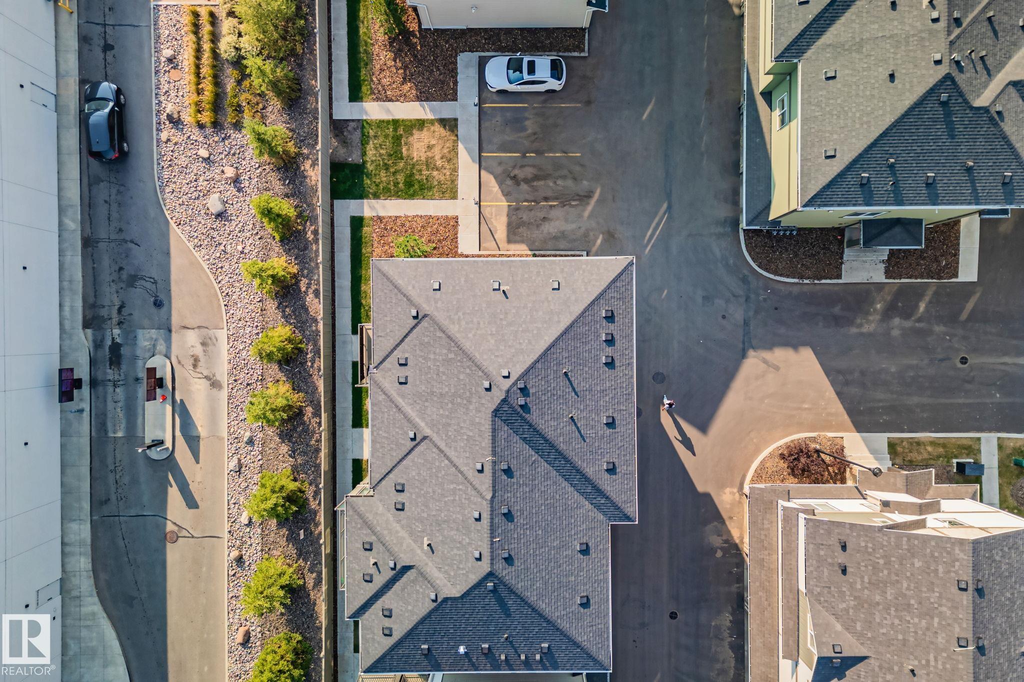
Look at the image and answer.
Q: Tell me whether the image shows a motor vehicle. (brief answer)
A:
Yes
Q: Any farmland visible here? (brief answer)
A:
No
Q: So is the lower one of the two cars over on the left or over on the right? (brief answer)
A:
left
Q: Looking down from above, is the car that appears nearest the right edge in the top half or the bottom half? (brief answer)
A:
top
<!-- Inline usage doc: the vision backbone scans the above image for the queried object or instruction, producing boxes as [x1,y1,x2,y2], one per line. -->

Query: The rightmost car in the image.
[485,49,565,92]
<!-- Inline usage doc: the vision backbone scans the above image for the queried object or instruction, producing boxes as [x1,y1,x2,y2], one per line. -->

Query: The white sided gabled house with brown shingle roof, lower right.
[742,462,1024,682]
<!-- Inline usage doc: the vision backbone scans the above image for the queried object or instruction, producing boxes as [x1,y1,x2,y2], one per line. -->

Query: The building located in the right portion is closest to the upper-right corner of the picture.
[734,0,1024,248]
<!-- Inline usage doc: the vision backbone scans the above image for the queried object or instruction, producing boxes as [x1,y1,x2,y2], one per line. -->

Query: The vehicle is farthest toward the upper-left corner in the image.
[81,83,131,163]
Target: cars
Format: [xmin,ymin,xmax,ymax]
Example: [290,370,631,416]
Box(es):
[485,49,565,92]
[81,83,131,163]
